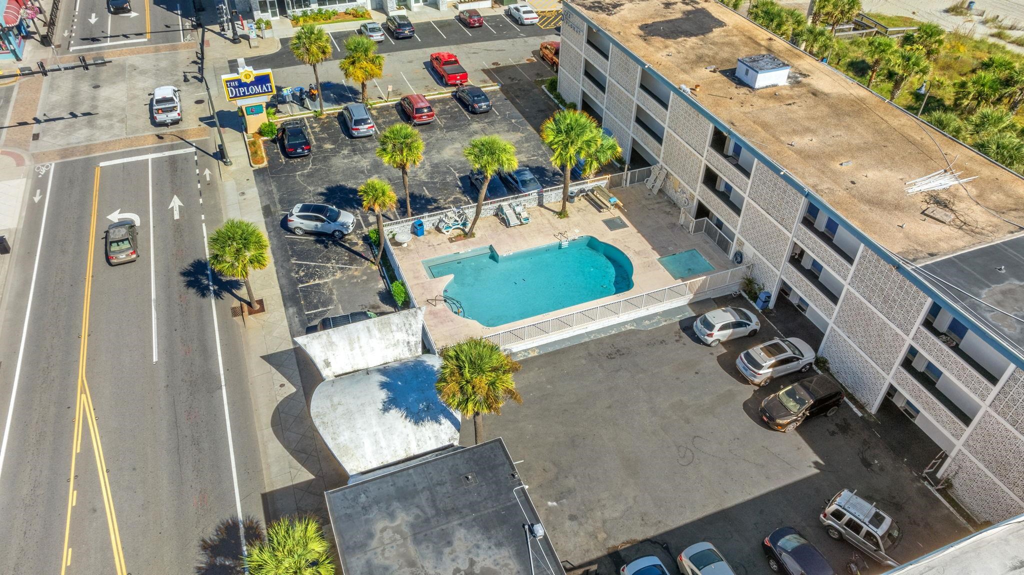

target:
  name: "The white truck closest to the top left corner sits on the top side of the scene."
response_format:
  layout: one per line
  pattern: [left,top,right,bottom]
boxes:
[148,85,180,121]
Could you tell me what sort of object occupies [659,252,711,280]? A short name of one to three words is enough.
swimming pool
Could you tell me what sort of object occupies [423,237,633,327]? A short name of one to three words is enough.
swimming pool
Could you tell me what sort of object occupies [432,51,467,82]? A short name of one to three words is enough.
truck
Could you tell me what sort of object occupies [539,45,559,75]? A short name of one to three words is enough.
vehicle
